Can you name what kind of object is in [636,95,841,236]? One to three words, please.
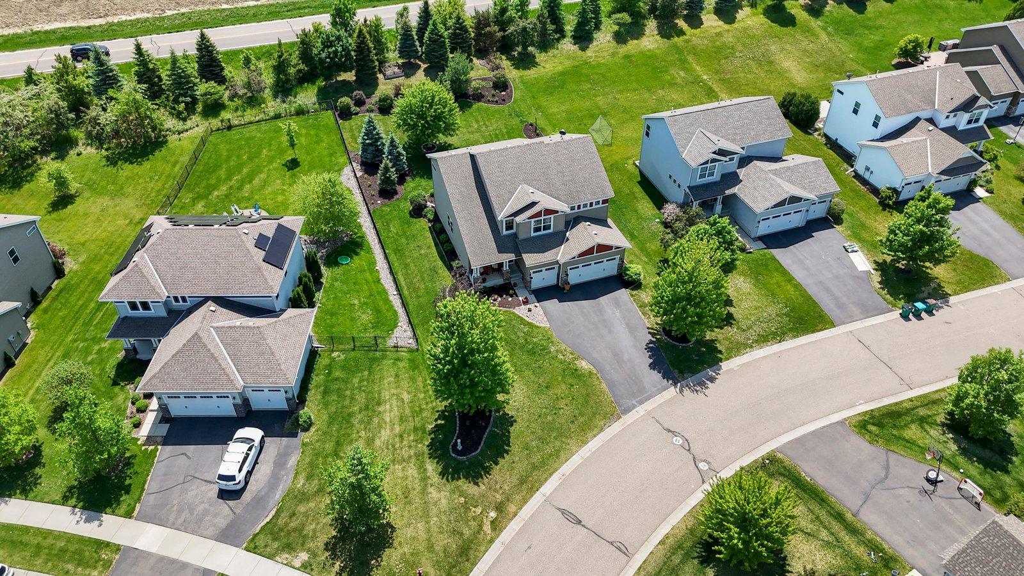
house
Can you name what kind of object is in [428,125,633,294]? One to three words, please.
house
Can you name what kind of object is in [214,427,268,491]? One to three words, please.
car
